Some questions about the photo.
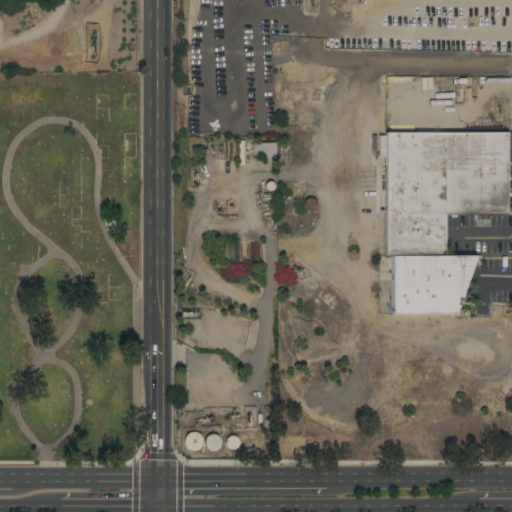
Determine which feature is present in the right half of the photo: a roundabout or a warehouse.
warehouse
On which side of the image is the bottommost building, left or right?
right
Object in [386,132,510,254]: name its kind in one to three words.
warehouse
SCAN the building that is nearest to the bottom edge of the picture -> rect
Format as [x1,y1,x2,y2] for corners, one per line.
[391,256,480,314]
